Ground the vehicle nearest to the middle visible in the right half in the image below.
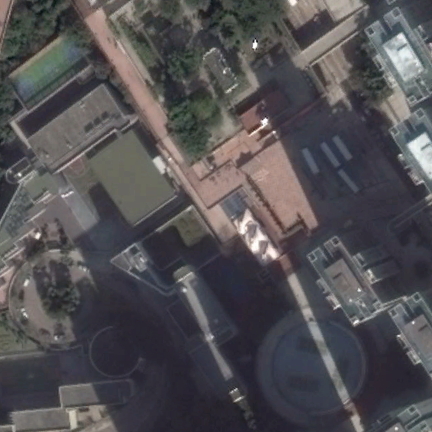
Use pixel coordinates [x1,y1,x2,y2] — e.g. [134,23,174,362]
[301,146,319,174]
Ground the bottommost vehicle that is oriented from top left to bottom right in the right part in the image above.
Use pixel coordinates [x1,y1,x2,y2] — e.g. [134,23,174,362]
[336,167,359,193]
